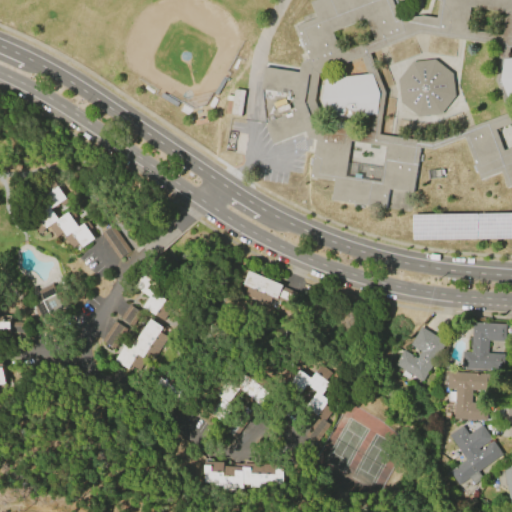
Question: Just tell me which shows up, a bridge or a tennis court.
tennis court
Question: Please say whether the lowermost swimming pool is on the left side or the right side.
right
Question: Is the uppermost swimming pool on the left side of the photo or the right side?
left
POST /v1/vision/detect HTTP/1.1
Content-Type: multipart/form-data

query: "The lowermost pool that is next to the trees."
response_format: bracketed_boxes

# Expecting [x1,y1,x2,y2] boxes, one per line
[450,328,474,366]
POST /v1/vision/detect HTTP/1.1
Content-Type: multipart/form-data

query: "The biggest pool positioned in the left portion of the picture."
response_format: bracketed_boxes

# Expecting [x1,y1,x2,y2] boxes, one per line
[20,244,63,289]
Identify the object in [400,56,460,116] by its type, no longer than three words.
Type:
building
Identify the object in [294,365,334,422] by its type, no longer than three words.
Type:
house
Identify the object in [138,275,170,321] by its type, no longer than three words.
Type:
house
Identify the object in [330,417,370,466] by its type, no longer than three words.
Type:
tennis court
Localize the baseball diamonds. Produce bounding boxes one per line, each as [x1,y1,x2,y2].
[125,0,240,107]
